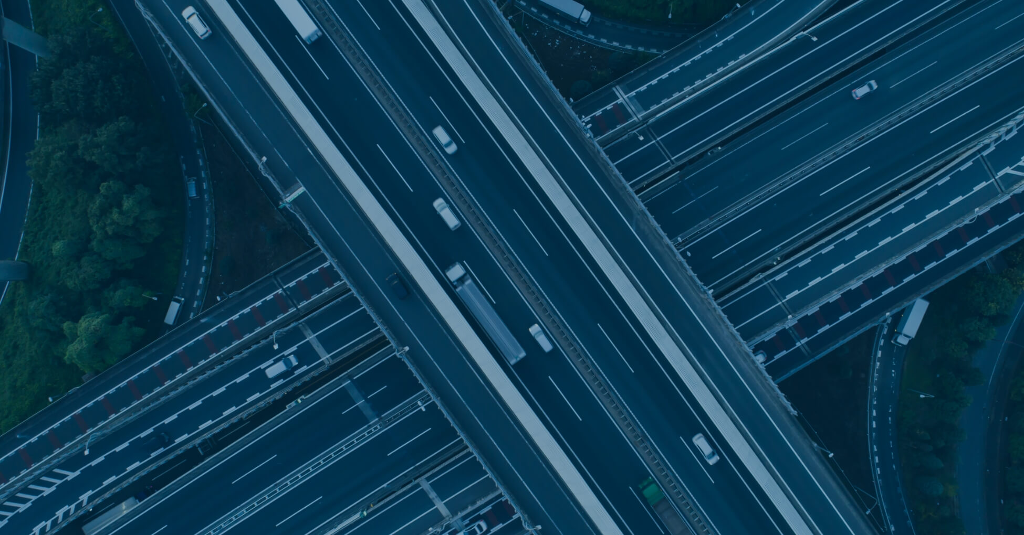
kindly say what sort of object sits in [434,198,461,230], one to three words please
car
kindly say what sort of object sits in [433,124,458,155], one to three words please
car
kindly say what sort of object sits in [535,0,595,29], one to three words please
truck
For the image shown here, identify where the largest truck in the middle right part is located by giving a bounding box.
[888,299,929,349]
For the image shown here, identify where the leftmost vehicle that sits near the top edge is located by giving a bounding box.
[184,8,212,40]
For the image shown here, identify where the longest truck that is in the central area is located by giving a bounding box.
[443,262,526,365]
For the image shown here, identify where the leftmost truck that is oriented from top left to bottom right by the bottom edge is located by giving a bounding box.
[636,473,691,535]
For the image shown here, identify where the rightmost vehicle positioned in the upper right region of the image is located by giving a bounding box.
[849,80,877,101]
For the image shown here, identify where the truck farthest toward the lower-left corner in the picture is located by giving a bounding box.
[82,482,161,535]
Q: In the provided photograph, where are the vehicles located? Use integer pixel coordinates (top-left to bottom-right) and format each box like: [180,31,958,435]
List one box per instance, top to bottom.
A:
[275,0,329,53]
[535,0,595,29]
[184,8,212,40]
[849,80,877,101]
[433,124,458,155]
[185,175,201,199]
[434,198,461,230]
[443,262,526,365]
[163,296,184,325]
[888,299,929,349]
[529,323,553,352]
[265,353,299,379]
[143,432,171,454]
[693,433,717,464]
[636,473,691,535]
[82,482,161,535]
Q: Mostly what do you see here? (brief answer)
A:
paved ground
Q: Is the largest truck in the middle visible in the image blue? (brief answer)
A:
Yes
